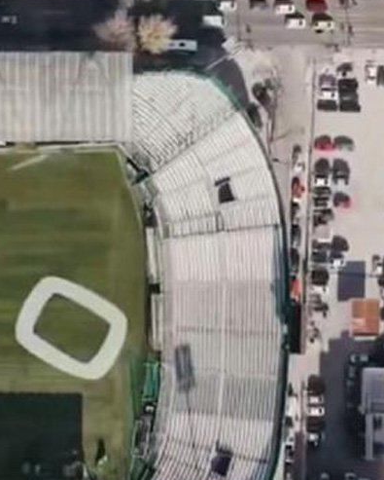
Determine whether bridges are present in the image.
No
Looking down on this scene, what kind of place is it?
sports ground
